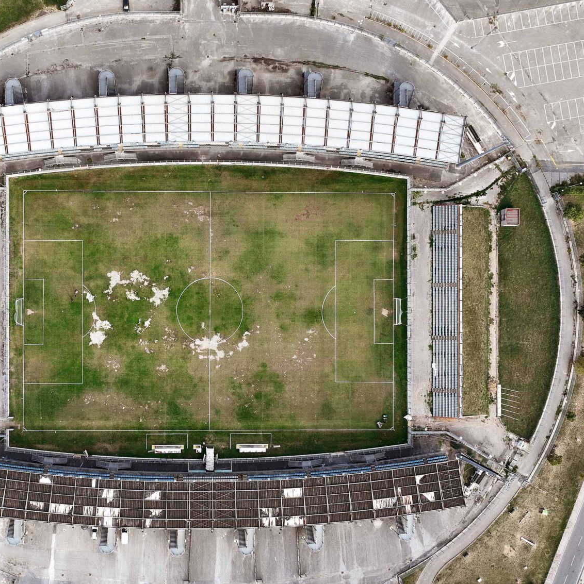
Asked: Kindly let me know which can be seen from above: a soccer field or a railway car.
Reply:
soccer field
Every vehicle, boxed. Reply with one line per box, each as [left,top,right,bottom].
[122,0,129,11]
[120,529,128,546]
[91,527,98,541]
